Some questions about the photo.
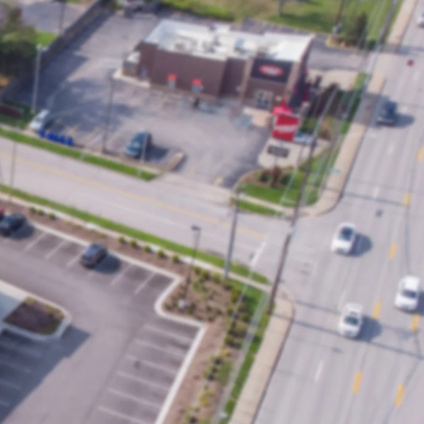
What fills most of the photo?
paved ground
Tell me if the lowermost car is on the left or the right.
right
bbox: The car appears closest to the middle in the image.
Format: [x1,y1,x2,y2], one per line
[119,135,157,158]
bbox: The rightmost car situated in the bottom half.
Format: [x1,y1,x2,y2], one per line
[395,281,422,314]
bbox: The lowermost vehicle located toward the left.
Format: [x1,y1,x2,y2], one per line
[77,244,113,272]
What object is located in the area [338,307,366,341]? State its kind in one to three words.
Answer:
car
